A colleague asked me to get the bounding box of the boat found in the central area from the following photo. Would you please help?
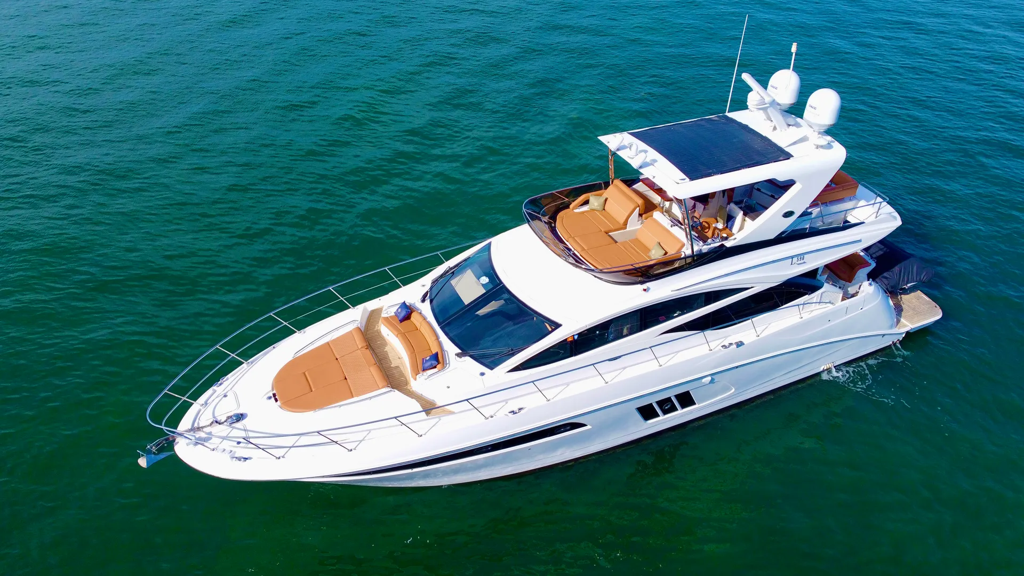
[146,15,940,487]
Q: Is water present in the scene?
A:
Yes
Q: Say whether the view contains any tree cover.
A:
No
